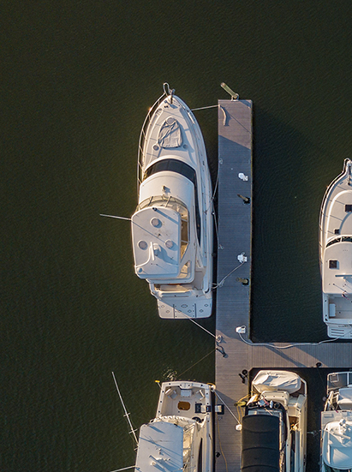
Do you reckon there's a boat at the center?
Yes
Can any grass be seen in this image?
No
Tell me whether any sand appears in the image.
No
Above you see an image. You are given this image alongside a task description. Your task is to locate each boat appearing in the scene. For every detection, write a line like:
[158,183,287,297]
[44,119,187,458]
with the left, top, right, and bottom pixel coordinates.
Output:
[319,157,352,338]
[103,83,218,318]
[242,368,310,472]
[319,372,352,472]
[112,371,226,472]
